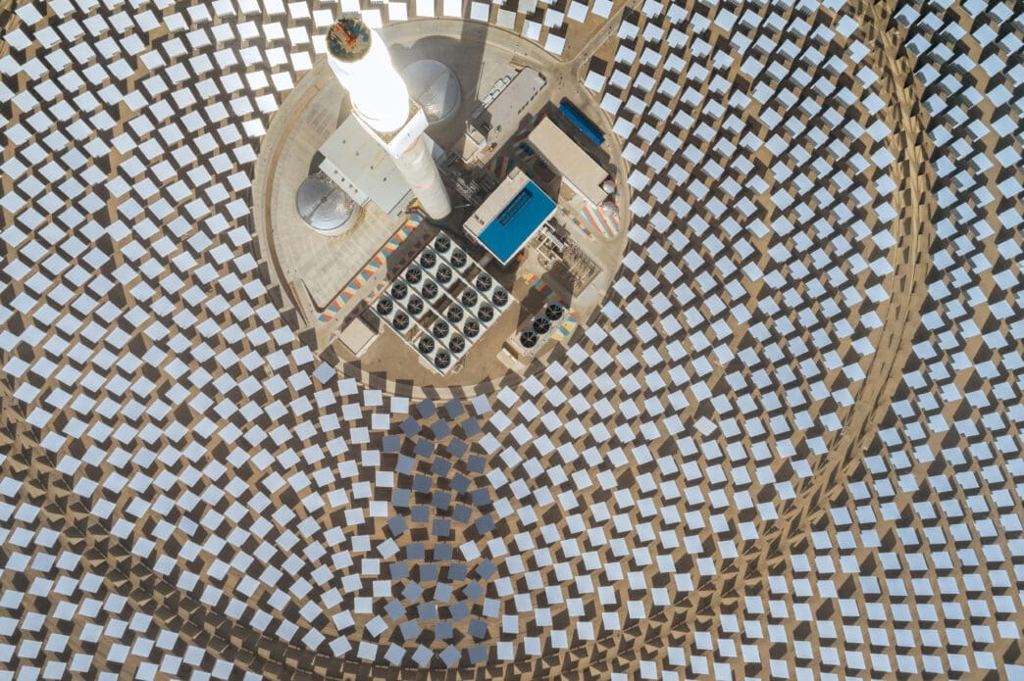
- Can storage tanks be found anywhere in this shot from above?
Yes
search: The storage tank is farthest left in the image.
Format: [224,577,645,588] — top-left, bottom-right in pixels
[295,171,363,237]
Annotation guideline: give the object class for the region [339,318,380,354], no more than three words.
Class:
house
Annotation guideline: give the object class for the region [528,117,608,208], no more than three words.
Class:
building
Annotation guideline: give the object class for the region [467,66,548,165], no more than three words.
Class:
building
